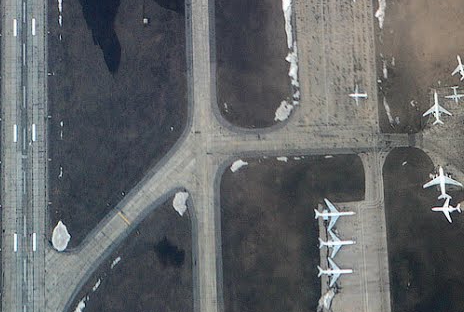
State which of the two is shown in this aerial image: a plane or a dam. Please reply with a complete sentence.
The image shows a plane.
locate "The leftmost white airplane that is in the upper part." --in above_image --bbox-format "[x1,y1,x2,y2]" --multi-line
[349,84,367,106]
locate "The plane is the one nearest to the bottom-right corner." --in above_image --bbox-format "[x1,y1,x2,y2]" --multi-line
[432,198,463,221]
